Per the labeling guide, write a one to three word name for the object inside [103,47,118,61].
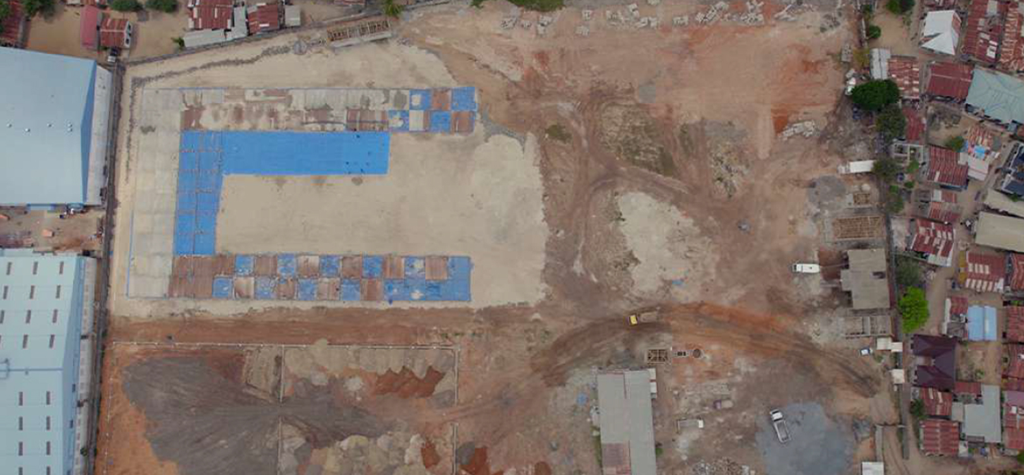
vehicle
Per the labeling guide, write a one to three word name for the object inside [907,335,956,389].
house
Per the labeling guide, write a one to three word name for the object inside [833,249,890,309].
building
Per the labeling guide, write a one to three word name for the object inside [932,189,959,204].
shed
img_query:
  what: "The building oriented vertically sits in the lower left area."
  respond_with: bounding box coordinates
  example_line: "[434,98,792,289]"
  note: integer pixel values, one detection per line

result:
[0,256,94,475]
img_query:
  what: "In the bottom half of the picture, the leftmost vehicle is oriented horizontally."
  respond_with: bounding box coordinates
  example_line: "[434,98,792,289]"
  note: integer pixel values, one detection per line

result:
[629,311,662,328]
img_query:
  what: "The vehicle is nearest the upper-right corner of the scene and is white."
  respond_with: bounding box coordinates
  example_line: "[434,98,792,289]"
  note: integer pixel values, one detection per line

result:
[839,160,879,175]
